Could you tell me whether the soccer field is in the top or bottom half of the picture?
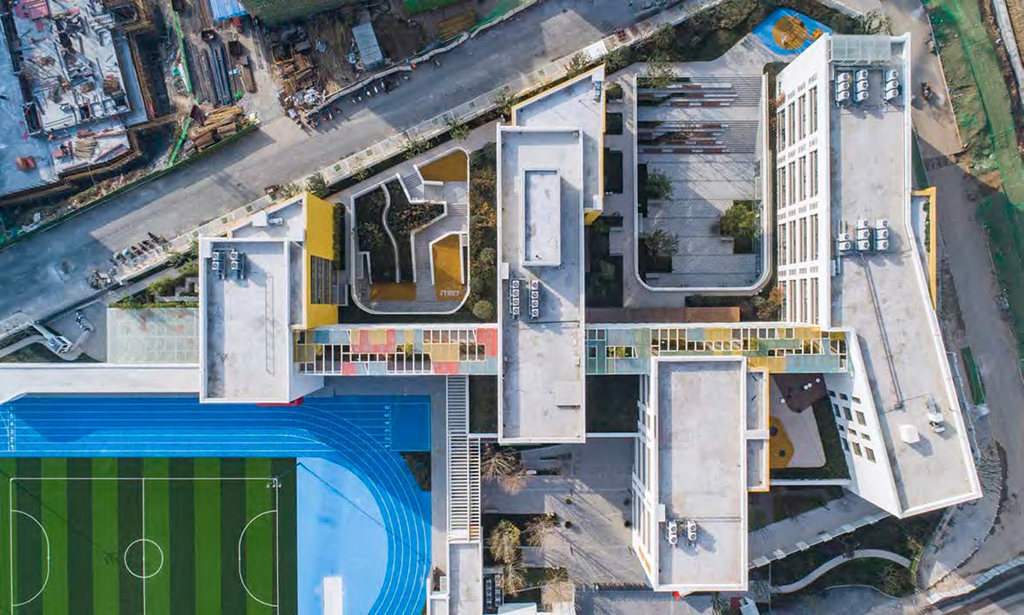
bottom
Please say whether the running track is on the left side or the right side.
left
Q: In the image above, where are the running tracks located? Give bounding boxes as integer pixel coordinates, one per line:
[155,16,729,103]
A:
[0,395,430,615]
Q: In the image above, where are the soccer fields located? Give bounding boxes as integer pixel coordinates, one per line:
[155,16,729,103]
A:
[0,458,298,615]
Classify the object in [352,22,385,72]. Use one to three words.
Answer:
shed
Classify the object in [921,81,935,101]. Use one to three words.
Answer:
work vehicle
